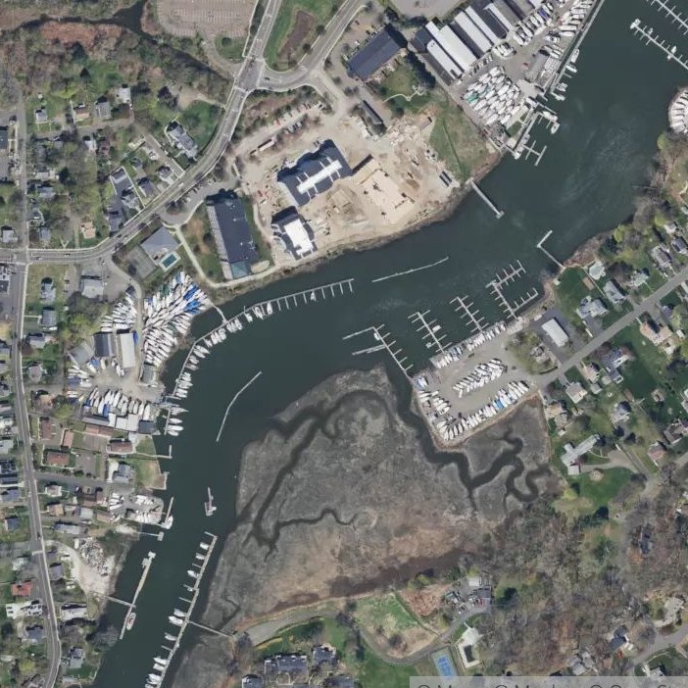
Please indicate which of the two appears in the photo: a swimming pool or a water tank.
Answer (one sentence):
There is a swimming pool in the scene.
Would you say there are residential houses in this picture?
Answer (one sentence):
Yes, there's a residential house here.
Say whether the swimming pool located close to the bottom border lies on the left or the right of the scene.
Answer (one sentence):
The swimming pool located close to the bottom border is on the right side of the image.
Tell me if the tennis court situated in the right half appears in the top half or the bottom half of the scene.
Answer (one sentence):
The bottom half of the photo is where the tennis court situated in the right half is.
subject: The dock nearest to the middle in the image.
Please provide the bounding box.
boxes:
[342,324,415,380]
